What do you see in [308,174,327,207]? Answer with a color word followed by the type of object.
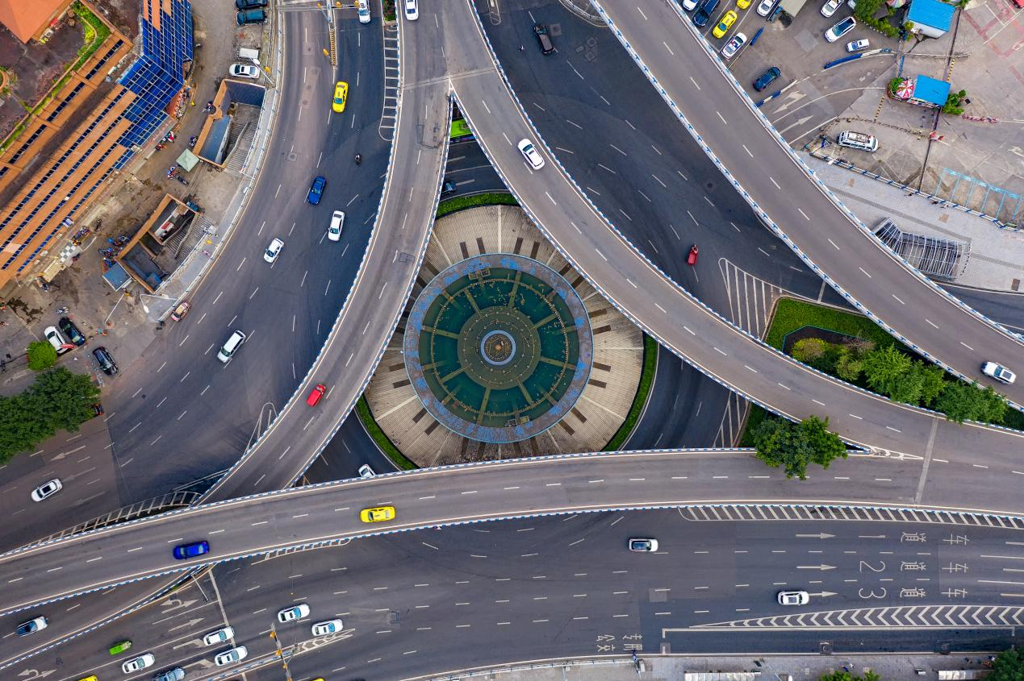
blue car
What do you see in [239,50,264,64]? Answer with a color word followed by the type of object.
white vehicle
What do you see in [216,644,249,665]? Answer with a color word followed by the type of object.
white car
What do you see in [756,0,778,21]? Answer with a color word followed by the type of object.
white car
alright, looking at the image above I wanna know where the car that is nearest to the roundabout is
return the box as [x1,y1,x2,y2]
[439,180,465,197]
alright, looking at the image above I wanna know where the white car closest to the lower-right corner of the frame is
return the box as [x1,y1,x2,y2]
[776,589,808,604]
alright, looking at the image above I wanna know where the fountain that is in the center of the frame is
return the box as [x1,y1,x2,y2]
[403,252,594,444]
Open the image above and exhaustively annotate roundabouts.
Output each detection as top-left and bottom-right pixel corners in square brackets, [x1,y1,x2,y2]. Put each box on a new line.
[351,188,659,472]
